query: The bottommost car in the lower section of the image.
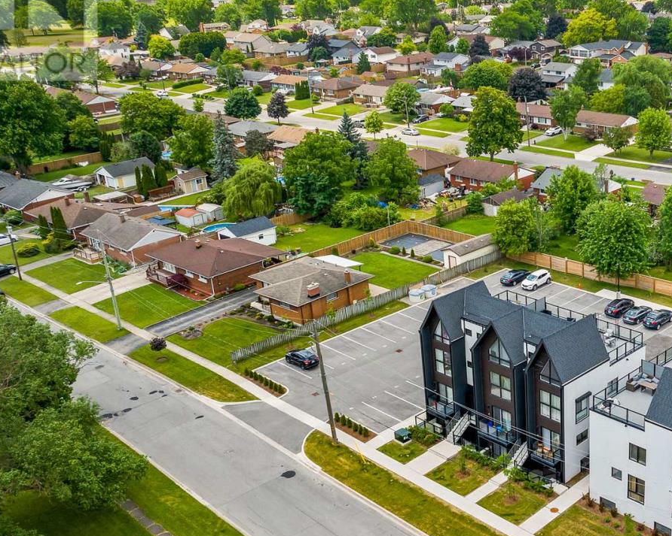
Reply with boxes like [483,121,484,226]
[286,348,326,373]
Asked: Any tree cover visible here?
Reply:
Yes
